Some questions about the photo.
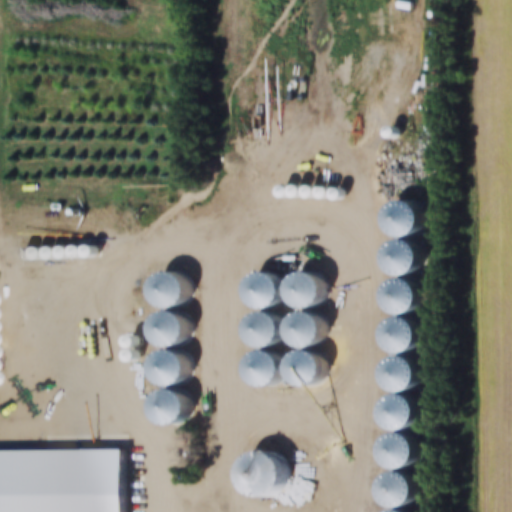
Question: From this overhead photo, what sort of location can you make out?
industrial area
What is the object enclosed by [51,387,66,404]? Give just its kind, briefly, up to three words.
vehicle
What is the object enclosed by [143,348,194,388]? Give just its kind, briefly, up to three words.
silo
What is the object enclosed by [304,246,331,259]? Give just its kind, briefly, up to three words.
vehicle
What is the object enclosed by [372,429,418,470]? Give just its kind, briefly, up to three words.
silo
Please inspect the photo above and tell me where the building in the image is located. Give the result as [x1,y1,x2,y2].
[0,448,128,512]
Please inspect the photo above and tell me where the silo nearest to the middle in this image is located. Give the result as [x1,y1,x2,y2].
[238,271,284,310]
